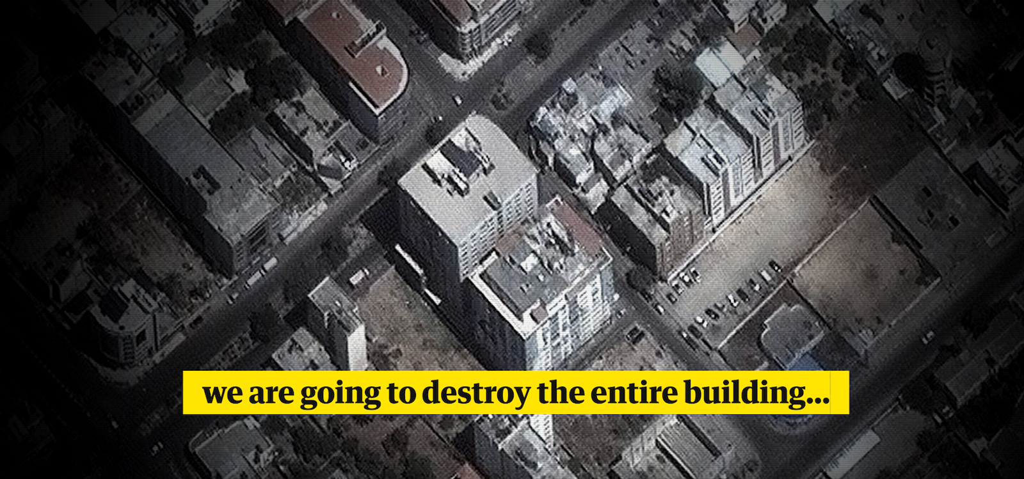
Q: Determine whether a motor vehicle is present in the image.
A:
Yes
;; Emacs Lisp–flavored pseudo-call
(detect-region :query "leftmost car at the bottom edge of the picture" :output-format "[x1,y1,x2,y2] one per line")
[149,443,163,456]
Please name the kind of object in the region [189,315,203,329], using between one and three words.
car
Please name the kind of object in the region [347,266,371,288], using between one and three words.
truck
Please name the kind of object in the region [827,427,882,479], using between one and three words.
building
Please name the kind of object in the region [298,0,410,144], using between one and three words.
building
